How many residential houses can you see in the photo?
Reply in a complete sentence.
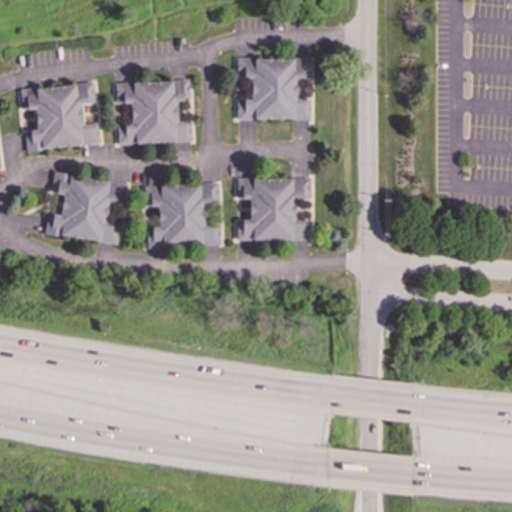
Looking from above, you can make out 6 residential houses.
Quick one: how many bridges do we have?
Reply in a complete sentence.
In total, 2 bridges can be seen.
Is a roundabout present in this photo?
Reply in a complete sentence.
No, the frame has no roundabout in it.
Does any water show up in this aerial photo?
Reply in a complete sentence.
No, water can't be seen anywhere here.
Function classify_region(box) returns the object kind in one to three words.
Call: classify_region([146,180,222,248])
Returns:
house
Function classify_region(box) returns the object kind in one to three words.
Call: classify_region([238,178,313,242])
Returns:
house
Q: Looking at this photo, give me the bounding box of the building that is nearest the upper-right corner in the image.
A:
[238,57,313,122]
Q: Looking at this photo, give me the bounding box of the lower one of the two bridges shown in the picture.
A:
[324,446,420,496]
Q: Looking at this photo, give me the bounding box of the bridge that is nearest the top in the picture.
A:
[324,372,420,425]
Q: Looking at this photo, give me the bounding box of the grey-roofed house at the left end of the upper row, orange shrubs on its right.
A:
[20,80,102,153]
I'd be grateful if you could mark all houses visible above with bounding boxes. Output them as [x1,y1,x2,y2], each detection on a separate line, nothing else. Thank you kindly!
[20,80,102,153]
[116,80,193,146]
[44,172,124,247]
[238,57,313,122]
[146,180,222,248]
[238,178,313,242]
